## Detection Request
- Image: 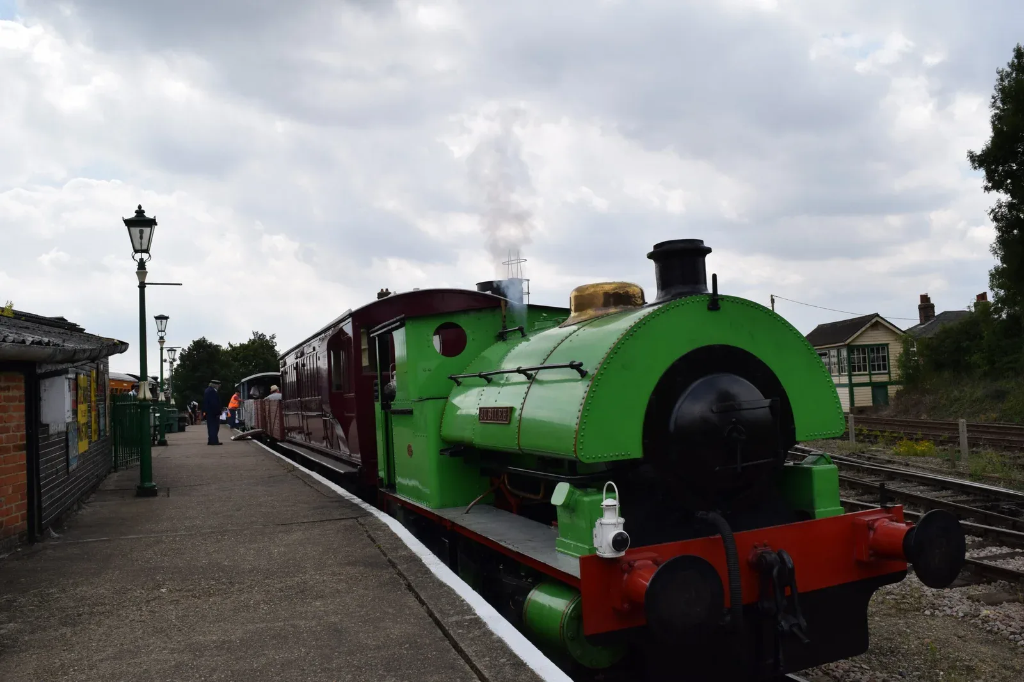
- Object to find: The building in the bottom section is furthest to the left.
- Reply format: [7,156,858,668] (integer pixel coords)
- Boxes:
[0,307,137,566]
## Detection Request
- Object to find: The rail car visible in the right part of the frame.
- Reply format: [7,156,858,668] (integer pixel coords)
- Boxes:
[365,240,964,682]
